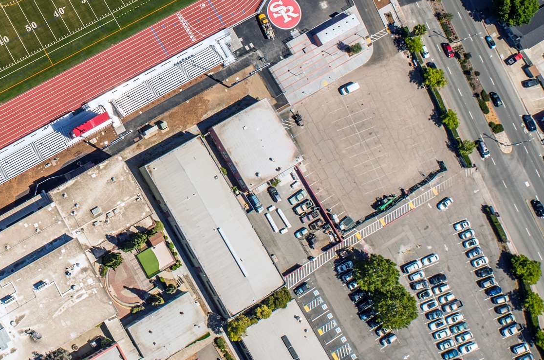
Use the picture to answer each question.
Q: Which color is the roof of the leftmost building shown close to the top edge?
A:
white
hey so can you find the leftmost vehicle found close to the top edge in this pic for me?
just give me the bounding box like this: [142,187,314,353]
[258,13,275,40]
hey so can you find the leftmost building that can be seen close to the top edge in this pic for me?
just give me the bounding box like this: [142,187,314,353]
[311,13,360,48]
